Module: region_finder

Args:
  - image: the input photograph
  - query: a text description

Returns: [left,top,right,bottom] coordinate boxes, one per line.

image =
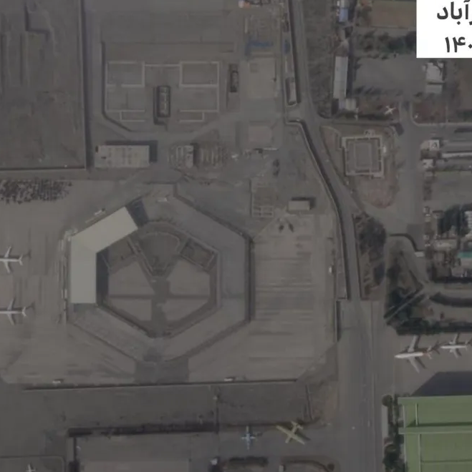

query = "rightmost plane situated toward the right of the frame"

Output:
[441,333,470,360]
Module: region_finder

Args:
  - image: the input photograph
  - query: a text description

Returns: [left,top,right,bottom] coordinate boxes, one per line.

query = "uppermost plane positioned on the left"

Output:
[0,246,22,273]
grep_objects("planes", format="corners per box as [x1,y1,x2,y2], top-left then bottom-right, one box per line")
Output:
[385,105,394,114]
[0,246,22,273]
[441,333,470,360]
[240,427,255,449]
[276,423,305,445]
[395,334,432,374]
[0,299,25,325]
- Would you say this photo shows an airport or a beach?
airport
